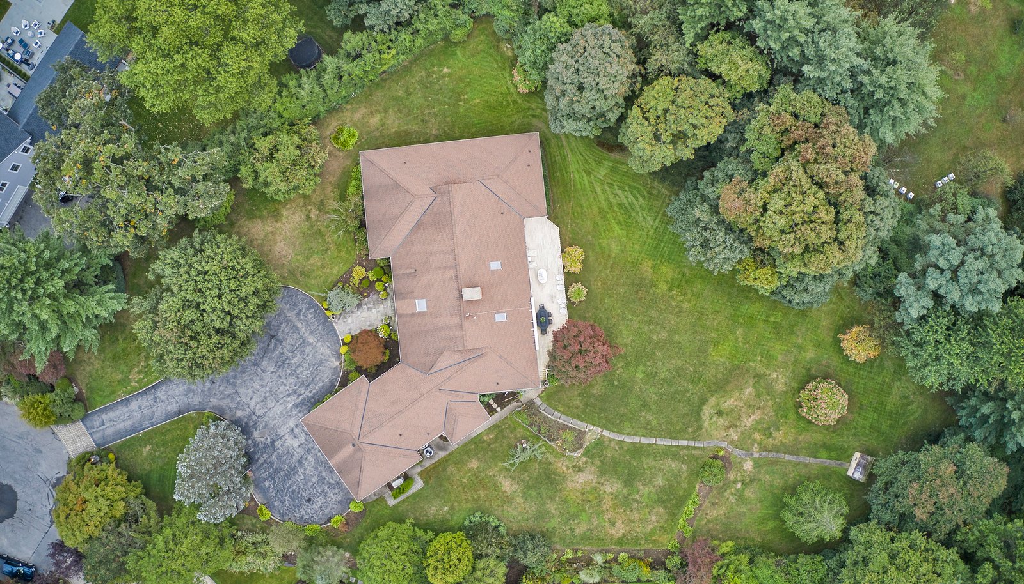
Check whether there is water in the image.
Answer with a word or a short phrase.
No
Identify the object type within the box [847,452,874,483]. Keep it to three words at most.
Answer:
shed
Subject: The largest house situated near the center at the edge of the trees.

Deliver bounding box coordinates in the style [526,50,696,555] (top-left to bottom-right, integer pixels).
[299,131,548,503]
